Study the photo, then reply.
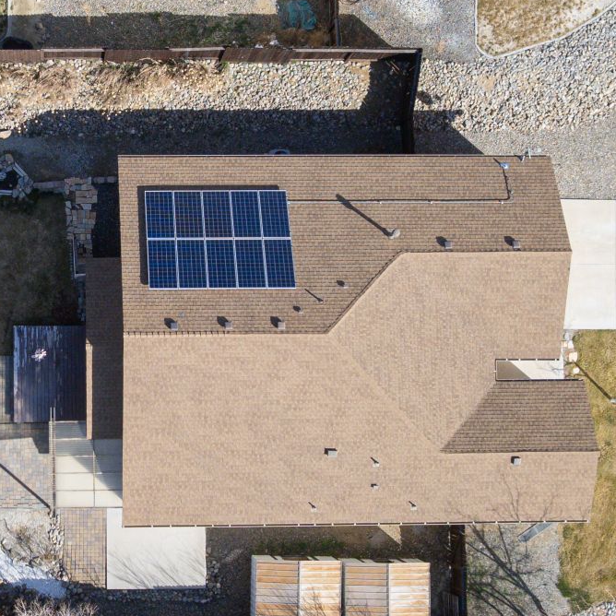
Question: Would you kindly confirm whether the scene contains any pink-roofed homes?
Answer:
No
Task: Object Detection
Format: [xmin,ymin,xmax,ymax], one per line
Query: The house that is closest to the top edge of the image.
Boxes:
[84,153,600,531]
